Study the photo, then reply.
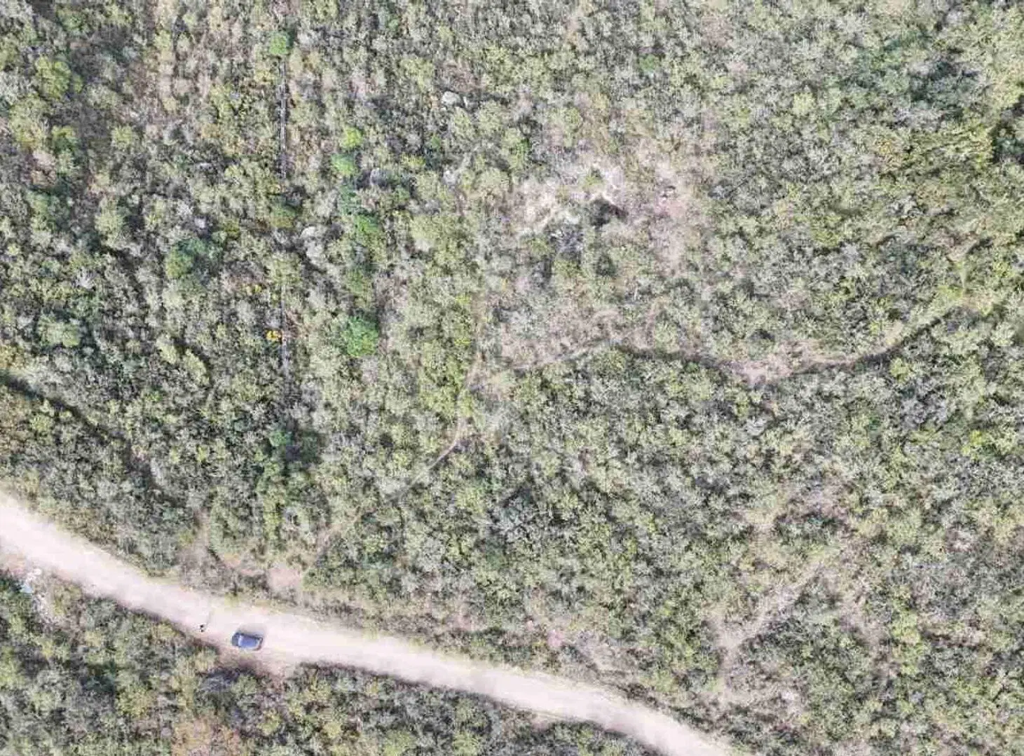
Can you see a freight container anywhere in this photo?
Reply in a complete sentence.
No, there's no freight container here.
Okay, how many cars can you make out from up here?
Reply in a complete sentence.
I count just 1 car.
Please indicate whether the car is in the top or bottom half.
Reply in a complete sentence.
It is in the bottom half that the car appears.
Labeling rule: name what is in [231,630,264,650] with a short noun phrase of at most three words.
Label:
car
